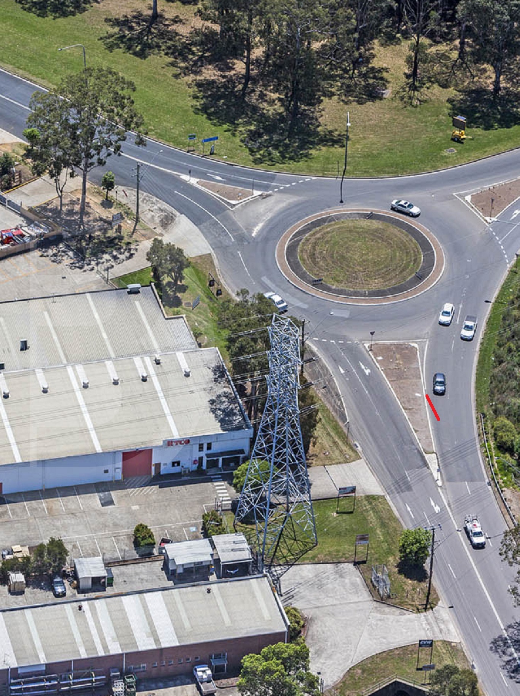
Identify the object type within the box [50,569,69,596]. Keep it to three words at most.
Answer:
car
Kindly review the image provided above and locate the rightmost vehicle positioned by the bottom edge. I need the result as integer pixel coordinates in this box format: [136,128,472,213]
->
[195,666,218,696]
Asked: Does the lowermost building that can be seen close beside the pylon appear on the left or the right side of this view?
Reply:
left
